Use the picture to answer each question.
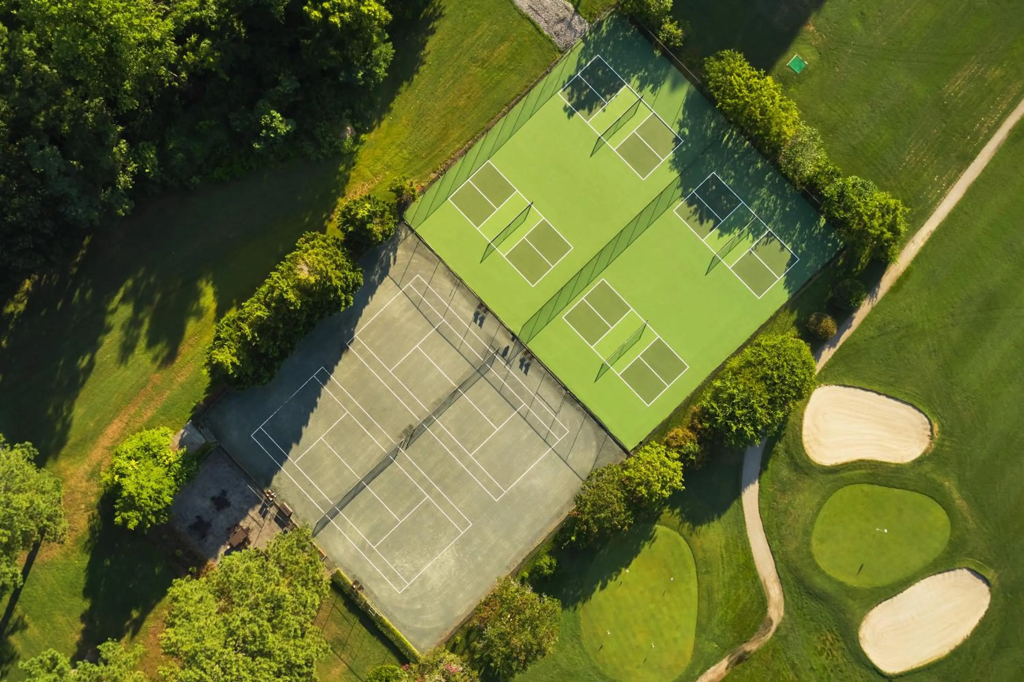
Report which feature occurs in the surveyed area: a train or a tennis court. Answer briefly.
tennis court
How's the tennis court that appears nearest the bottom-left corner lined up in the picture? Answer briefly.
at an angle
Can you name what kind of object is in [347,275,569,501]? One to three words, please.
tennis court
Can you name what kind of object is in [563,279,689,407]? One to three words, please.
sports court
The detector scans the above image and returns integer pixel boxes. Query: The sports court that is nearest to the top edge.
[558,54,684,180]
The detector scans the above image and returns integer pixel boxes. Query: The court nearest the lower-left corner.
[251,367,472,594]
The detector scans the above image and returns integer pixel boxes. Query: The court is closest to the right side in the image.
[673,172,800,299]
